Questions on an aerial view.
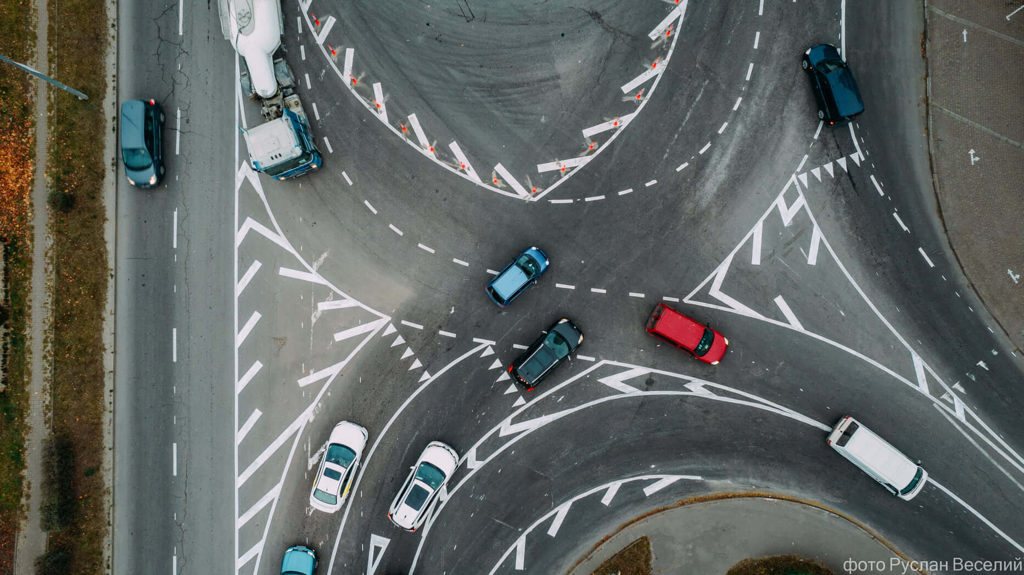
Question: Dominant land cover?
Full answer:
The bulk of the photo consists of paved ground.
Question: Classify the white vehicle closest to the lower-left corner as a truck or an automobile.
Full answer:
Looking closely, the white vehicle closest to the lower-left corner is an automobile.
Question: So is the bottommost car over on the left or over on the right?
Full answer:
The bottommost car is on the left side of the image.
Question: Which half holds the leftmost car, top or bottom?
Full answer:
You can find the leftmost car in the top half.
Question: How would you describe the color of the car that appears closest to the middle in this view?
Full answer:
From above, the car that appears closest to the middle appears blue.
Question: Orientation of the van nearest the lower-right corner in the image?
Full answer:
The van nearest the lower-right corner is laid out at an angle.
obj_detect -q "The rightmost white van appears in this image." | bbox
[827,418,925,499]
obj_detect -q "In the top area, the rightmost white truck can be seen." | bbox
[215,0,322,183]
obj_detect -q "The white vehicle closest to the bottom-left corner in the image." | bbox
[309,422,369,513]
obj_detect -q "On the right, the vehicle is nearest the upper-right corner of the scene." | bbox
[805,45,861,125]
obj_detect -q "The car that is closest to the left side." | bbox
[119,103,166,187]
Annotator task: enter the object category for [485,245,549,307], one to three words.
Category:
car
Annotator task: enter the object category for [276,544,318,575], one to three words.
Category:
car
